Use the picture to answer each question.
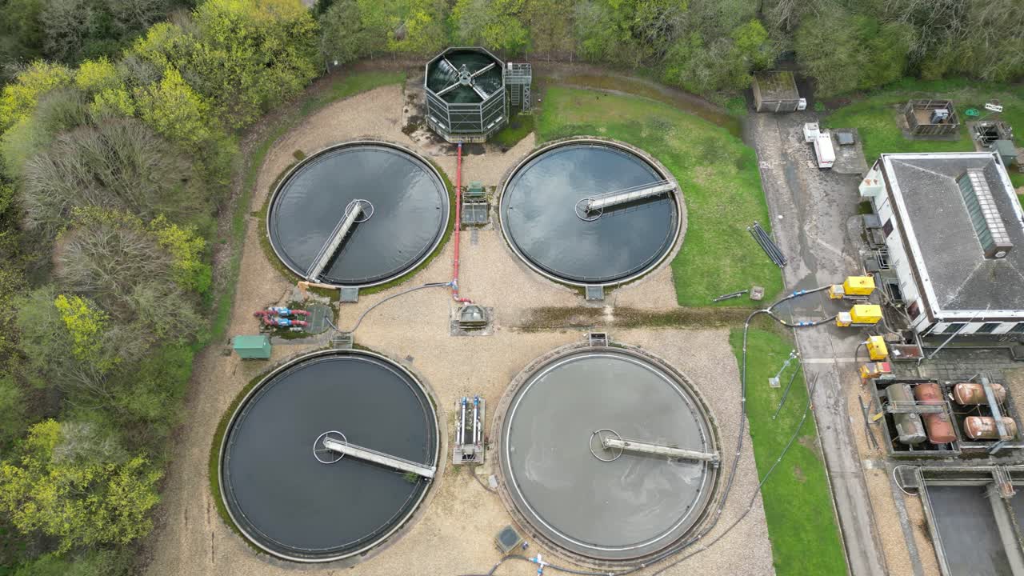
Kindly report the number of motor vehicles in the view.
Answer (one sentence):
Altogether the scene contains 2 motor vehicles.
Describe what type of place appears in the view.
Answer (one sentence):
This looks like an industrial area.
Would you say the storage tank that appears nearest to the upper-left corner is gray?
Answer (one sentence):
Yes, the storage tank that appears nearest to the upper-left corner is gray.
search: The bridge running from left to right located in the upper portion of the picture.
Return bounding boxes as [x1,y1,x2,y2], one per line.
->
[585,174,682,212]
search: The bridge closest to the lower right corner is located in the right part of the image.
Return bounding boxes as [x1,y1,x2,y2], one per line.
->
[602,432,726,474]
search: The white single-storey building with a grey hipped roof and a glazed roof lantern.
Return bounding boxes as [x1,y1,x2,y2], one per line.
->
[863,152,1024,346]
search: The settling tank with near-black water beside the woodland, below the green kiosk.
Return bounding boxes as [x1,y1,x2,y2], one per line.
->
[218,330,440,564]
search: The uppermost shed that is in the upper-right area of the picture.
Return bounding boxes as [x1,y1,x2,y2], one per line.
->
[754,68,803,112]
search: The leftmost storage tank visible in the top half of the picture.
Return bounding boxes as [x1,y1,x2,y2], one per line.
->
[267,141,451,302]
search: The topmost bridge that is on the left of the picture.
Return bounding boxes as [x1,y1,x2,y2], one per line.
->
[305,194,365,284]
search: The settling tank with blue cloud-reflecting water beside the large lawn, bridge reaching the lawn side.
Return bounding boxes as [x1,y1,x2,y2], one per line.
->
[498,138,682,300]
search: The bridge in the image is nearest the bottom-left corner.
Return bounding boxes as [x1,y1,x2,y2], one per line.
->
[318,434,437,487]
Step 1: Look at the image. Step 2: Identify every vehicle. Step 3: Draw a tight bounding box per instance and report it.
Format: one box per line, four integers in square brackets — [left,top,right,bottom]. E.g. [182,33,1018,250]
[800,118,826,148]
[812,134,842,173]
